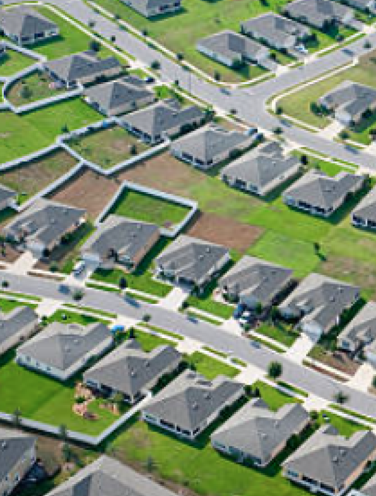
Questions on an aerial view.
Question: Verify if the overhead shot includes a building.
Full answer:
Yes, the image includes a building.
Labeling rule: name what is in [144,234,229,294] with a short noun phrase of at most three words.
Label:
house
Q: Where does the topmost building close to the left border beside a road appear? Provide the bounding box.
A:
[5,6,58,44]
